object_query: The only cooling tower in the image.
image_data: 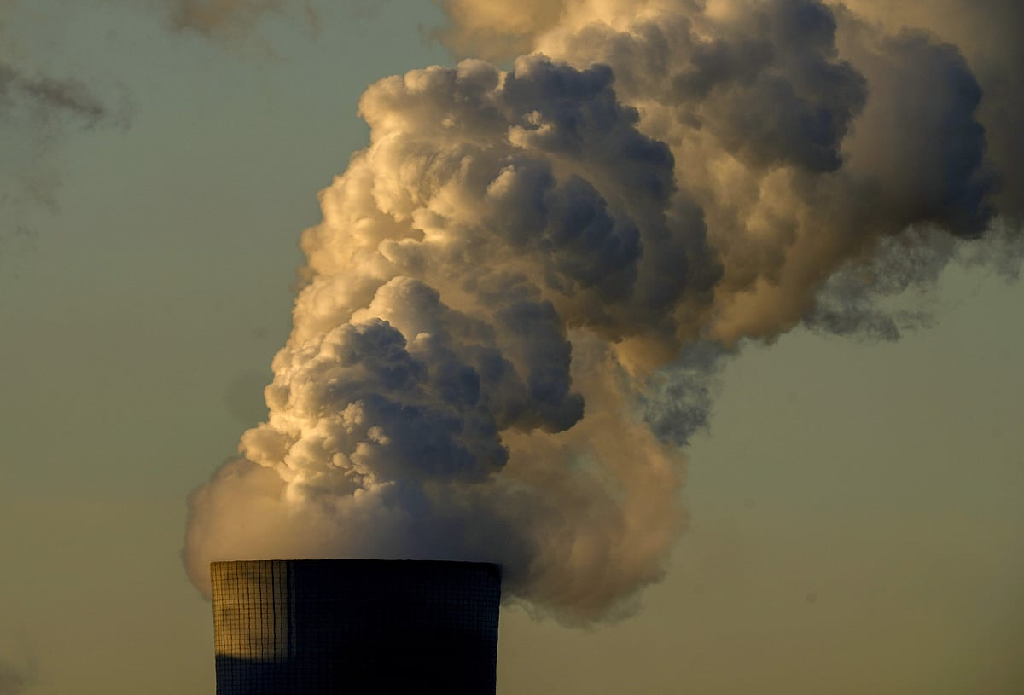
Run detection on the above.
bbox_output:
[210,555,500,695]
